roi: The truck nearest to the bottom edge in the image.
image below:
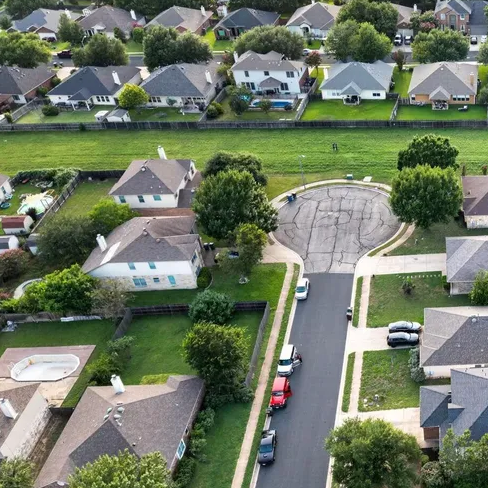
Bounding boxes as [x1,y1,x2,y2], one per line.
[254,424,280,466]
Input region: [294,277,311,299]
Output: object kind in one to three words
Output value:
car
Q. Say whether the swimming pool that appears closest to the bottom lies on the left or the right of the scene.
left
